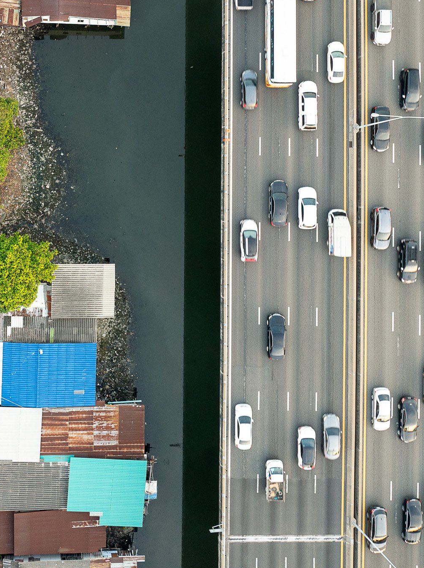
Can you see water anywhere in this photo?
Yes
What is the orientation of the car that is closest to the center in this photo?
from top to bottom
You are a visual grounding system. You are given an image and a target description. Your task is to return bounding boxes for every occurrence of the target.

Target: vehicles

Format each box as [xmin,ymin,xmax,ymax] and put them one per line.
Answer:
[322,413,342,460]
[267,314,287,359]
[396,239,420,283]
[298,84,320,129]
[399,68,422,112]
[235,0,253,10]
[370,207,394,249]
[366,505,390,553]
[298,187,320,229]
[326,41,346,83]
[397,397,420,441]
[265,455,286,506]
[240,71,260,109]
[329,208,354,256]
[269,181,290,226]
[296,425,319,470]
[266,0,296,87]
[401,497,424,544]
[240,221,260,259]
[371,0,394,45]
[234,404,254,449]
[370,386,393,430]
